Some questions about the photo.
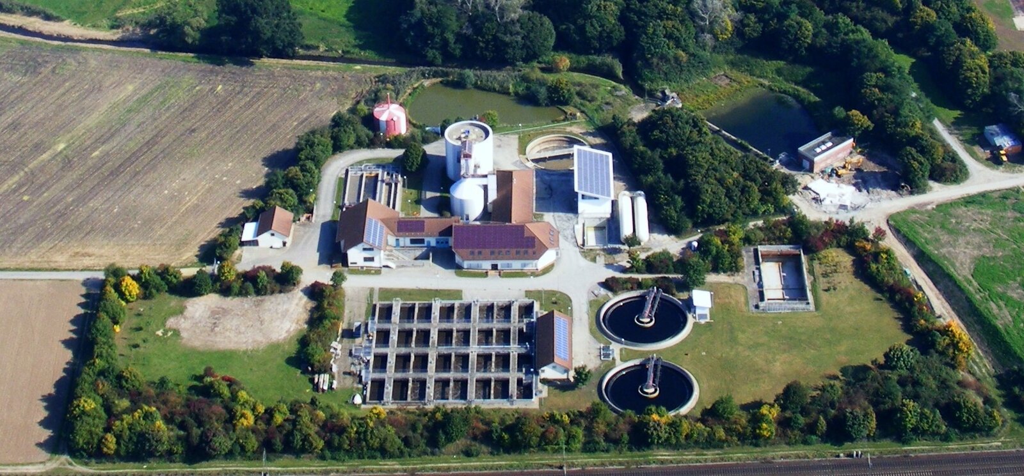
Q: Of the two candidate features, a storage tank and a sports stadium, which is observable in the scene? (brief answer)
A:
storage tank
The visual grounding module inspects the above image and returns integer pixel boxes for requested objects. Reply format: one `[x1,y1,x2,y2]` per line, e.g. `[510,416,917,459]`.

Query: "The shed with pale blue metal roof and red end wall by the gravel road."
[983,122,1024,158]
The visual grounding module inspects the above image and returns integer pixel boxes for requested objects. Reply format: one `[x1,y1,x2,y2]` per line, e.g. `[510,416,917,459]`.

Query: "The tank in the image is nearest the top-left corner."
[372,93,408,137]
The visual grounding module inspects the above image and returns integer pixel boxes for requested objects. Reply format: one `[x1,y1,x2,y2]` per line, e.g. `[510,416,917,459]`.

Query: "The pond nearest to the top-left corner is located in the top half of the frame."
[410,86,566,128]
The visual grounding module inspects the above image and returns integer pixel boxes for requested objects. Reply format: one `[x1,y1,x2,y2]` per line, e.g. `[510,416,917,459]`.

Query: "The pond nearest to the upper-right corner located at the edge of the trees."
[703,92,822,160]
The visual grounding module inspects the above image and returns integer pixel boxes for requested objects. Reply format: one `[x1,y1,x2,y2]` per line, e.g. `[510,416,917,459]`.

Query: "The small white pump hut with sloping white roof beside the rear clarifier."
[691,291,716,323]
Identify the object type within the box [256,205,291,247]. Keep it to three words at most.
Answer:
building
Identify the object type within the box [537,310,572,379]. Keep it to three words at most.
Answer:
house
